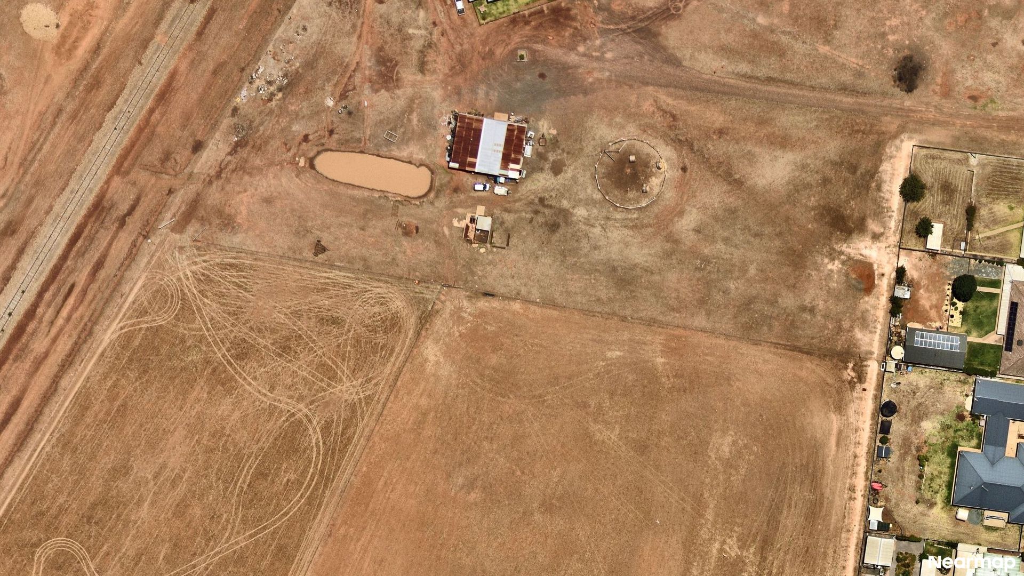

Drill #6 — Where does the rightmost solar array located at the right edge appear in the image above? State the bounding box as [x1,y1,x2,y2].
[1005,302,1019,352]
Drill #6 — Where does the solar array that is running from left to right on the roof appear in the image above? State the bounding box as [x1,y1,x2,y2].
[915,332,960,351]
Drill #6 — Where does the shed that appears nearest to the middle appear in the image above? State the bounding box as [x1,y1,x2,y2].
[463,214,492,245]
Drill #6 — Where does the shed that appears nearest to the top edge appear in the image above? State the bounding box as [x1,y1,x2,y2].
[449,113,527,179]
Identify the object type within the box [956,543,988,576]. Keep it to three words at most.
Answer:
house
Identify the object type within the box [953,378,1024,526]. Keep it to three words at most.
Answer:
house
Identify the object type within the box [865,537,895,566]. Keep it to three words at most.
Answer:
shed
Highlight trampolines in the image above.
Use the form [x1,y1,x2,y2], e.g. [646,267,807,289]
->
[880,421,892,435]
[881,401,897,417]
